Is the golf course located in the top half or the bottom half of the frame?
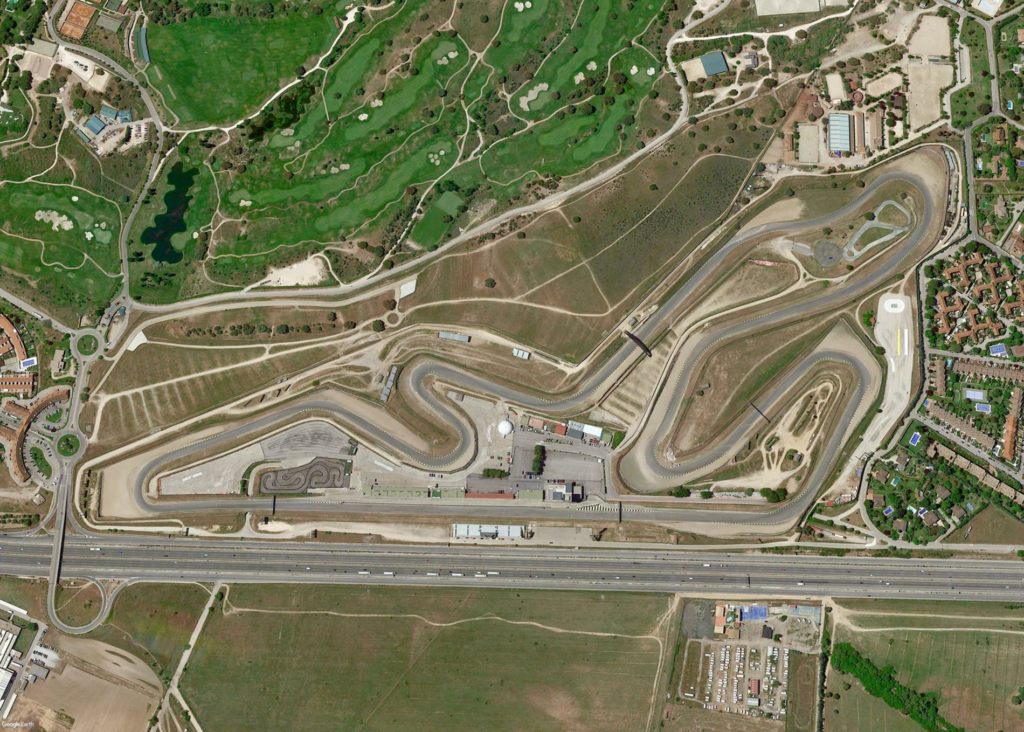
top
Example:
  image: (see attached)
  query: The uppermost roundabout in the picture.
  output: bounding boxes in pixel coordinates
[70,328,105,362]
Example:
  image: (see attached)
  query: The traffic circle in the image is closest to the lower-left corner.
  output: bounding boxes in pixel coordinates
[56,428,86,462]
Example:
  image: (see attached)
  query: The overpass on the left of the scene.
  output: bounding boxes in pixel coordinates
[46,460,69,606]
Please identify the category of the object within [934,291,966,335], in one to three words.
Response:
building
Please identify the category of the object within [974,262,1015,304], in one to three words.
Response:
building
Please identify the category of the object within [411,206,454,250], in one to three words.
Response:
sports field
